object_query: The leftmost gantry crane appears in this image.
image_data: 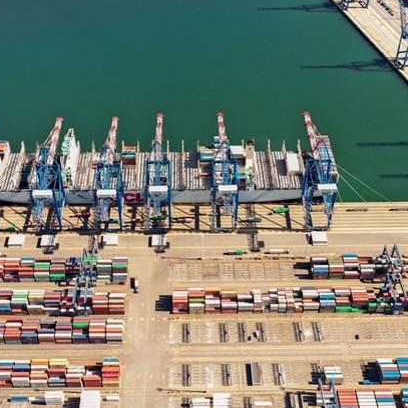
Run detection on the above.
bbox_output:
[28,113,69,233]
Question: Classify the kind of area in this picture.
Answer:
port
